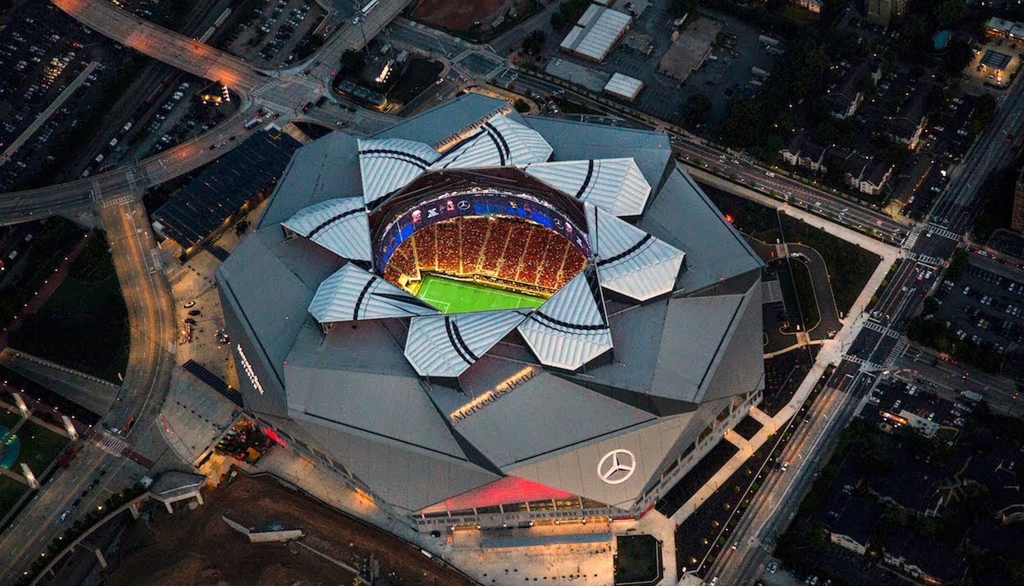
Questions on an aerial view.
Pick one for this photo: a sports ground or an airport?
sports ground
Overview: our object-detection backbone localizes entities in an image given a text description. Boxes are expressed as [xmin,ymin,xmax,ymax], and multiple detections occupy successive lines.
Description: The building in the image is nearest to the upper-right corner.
[987,17,1024,45]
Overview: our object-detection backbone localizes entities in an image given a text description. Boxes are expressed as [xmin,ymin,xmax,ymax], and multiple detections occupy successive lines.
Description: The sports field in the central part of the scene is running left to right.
[415,273,549,311]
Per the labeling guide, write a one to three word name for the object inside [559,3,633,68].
building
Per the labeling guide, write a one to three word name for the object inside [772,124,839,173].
house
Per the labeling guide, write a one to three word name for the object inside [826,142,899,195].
house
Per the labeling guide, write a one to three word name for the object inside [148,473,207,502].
building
